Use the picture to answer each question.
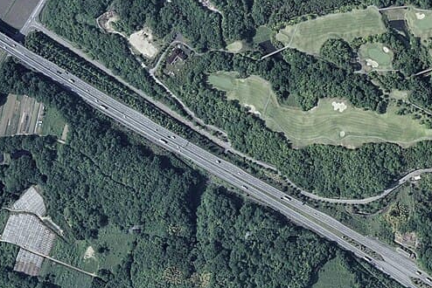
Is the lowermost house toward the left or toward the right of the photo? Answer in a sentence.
It is on the left.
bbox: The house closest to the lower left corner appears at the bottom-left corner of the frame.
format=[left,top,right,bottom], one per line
[14,249,44,275]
